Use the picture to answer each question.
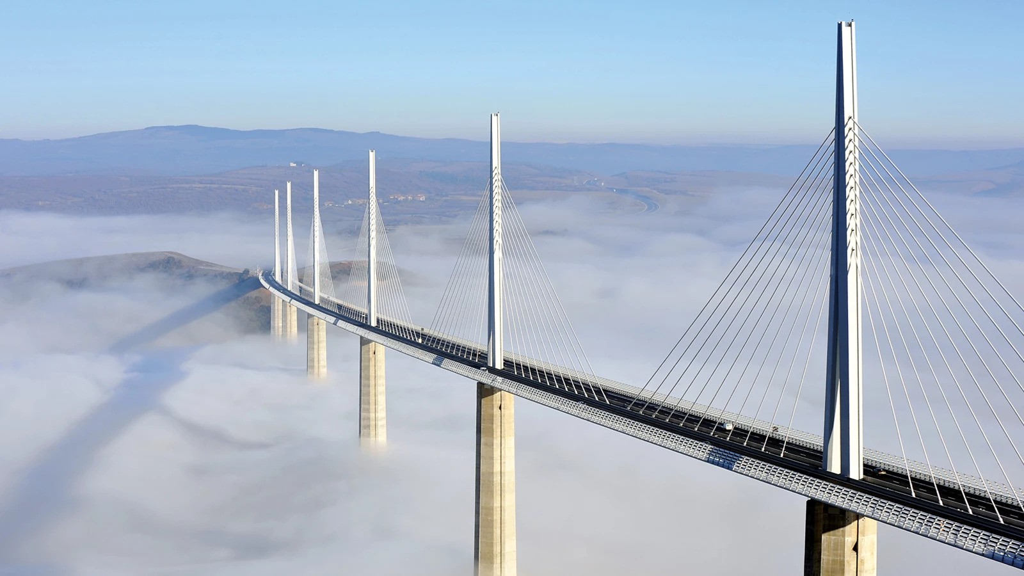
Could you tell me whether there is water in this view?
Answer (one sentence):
Yes, some water is visible.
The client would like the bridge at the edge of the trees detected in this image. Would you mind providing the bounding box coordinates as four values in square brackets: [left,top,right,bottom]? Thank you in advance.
[259,17,1024,576]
